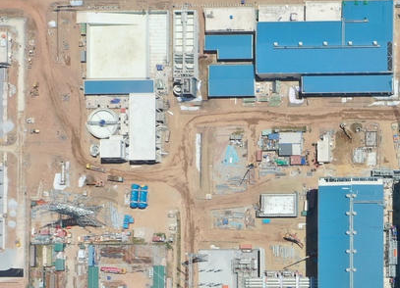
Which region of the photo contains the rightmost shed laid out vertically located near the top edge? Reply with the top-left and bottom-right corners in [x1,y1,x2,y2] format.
[149,13,170,64]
